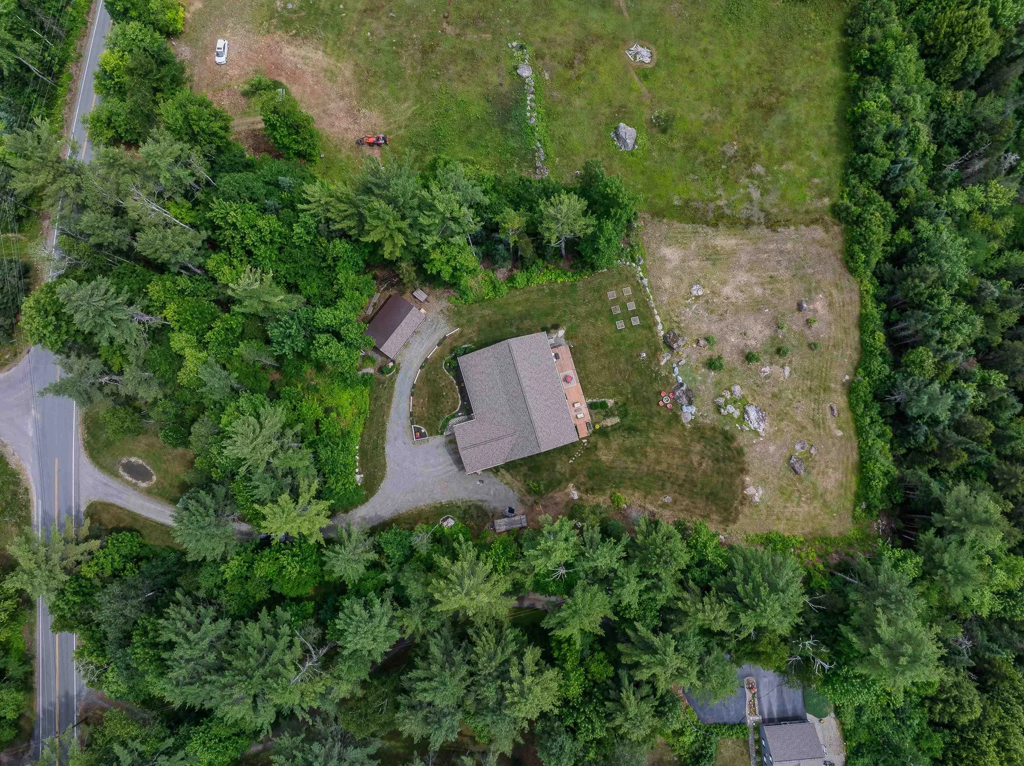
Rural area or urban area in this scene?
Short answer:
rural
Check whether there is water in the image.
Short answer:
No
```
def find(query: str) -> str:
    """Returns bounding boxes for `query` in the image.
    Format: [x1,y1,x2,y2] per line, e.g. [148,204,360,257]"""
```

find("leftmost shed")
[364,294,428,360]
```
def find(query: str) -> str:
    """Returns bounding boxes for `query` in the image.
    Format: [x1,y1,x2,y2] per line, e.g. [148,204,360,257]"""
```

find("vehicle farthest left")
[212,37,228,62]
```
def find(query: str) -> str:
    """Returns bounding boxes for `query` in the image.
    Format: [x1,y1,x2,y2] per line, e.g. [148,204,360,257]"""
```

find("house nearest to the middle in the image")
[452,332,579,475]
